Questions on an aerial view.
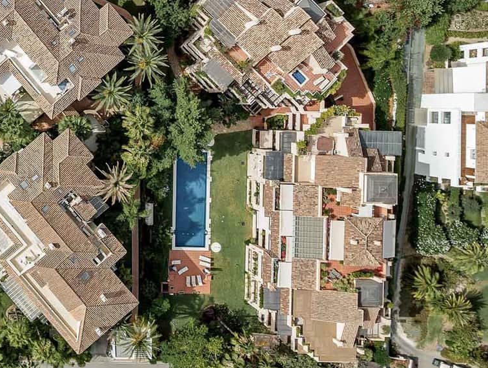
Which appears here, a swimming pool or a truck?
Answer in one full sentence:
It is a swimming pool that can be seen here.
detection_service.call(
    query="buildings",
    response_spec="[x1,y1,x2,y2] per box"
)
[172,0,357,118]
[410,44,488,192]
[239,110,403,365]
[0,0,134,120]
[0,129,139,353]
